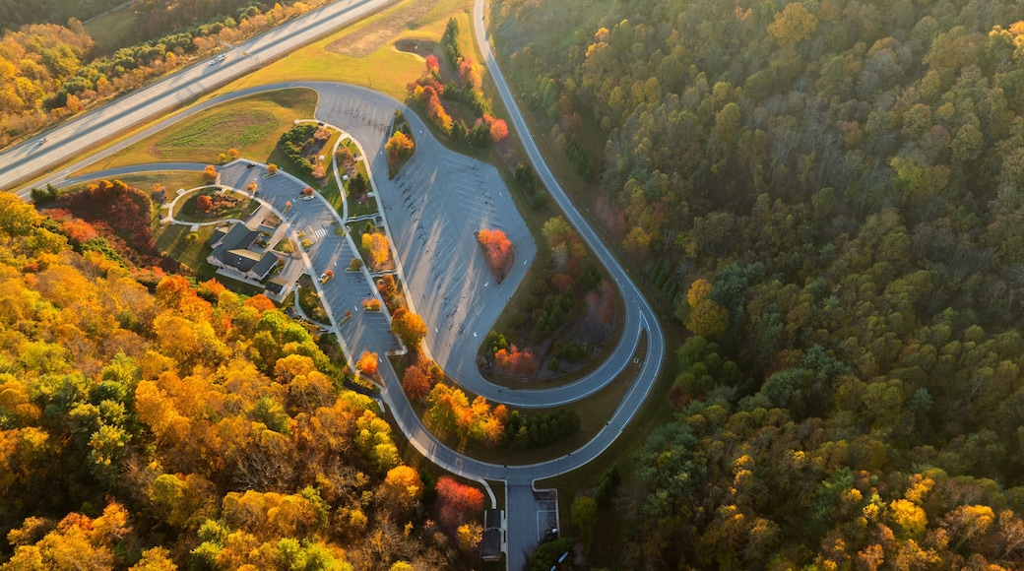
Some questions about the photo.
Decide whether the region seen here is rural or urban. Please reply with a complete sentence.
This place is rural.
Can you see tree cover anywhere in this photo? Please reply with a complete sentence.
Yes, tree cover shows up in the scene.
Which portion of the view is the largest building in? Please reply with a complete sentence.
You can find the largest building in the left area of the picture.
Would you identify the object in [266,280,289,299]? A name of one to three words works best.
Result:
building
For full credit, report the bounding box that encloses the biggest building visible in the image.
[201,222,280,282]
